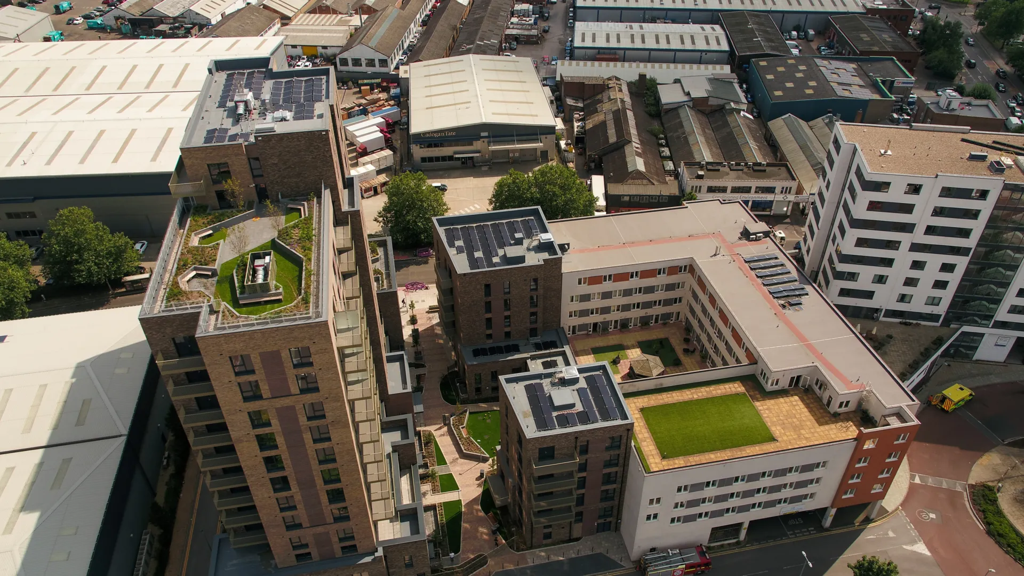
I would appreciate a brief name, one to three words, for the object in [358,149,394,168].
vehicle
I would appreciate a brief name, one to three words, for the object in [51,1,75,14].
vehicle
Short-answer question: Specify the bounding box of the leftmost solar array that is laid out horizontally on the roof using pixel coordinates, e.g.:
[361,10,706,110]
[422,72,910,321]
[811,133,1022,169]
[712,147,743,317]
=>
[201,128,251,142]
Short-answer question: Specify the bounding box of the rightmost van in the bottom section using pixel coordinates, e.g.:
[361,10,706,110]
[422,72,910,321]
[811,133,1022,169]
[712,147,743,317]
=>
[928,383,977,414]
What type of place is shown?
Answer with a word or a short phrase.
industrial area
